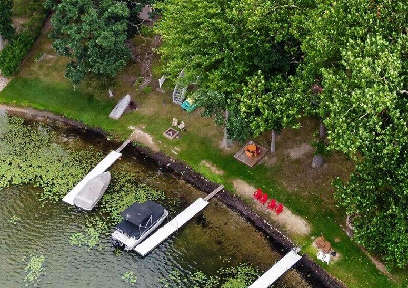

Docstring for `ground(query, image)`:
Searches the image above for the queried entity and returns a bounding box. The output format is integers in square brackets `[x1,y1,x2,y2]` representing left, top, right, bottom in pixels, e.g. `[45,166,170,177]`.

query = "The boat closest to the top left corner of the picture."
[111,92,132,118]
